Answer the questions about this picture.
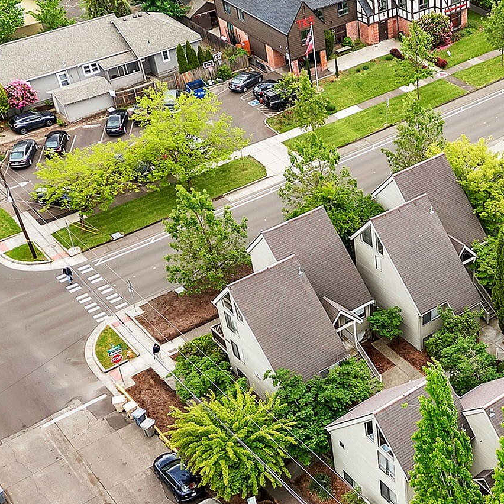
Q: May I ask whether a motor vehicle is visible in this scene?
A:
Yes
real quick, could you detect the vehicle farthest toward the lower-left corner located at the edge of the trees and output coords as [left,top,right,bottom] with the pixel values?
[151,454,203,504]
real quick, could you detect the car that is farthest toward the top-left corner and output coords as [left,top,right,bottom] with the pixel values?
[7,110,56,135]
